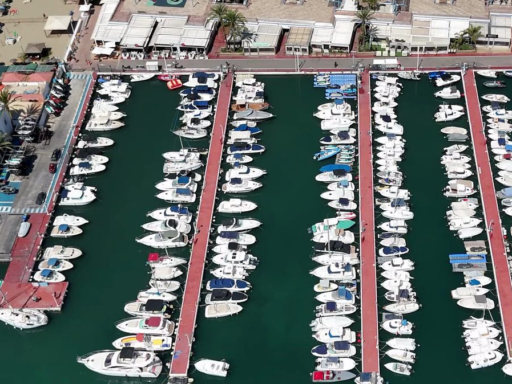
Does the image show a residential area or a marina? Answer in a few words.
marina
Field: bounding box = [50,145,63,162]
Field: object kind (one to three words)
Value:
vehicle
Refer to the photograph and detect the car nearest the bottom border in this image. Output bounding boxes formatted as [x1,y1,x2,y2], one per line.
[33,189,49,208]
